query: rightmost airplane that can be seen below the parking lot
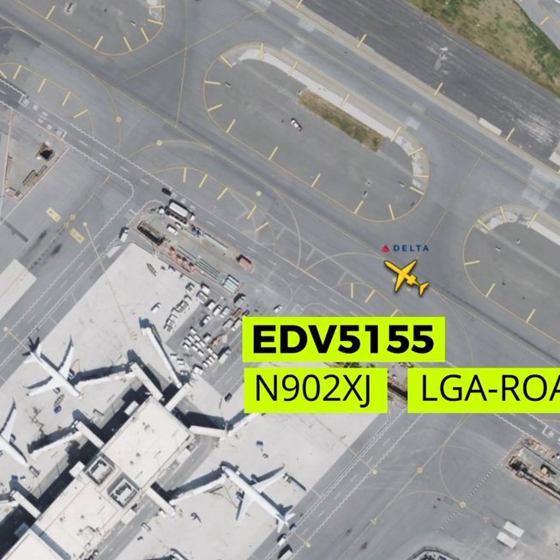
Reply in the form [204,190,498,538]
[222,466,296,533]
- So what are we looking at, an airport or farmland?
airport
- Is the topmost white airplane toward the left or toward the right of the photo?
left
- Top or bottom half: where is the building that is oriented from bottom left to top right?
bottom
